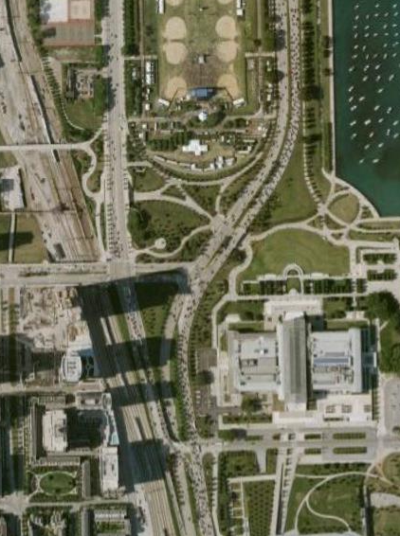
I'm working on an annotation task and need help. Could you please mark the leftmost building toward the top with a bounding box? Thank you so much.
[0,166,25,211]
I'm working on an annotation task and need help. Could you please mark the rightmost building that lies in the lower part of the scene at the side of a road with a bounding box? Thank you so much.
[227,302,376,418]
